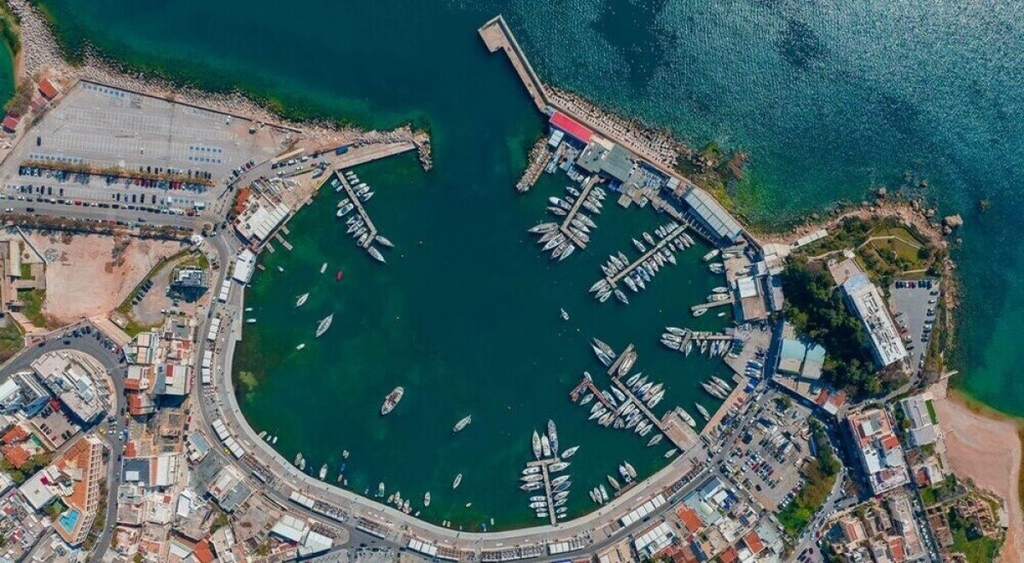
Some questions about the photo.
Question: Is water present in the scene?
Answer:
Yes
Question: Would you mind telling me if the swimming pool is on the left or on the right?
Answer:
left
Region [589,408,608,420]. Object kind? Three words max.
boat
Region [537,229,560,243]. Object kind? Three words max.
boat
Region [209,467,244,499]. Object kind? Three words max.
house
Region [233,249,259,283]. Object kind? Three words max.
building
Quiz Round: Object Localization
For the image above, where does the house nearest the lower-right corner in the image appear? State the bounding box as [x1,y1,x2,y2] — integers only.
[926,505,954,548]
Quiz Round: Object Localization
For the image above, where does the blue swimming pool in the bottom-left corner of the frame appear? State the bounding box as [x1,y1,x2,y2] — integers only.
[59,509,80,533]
